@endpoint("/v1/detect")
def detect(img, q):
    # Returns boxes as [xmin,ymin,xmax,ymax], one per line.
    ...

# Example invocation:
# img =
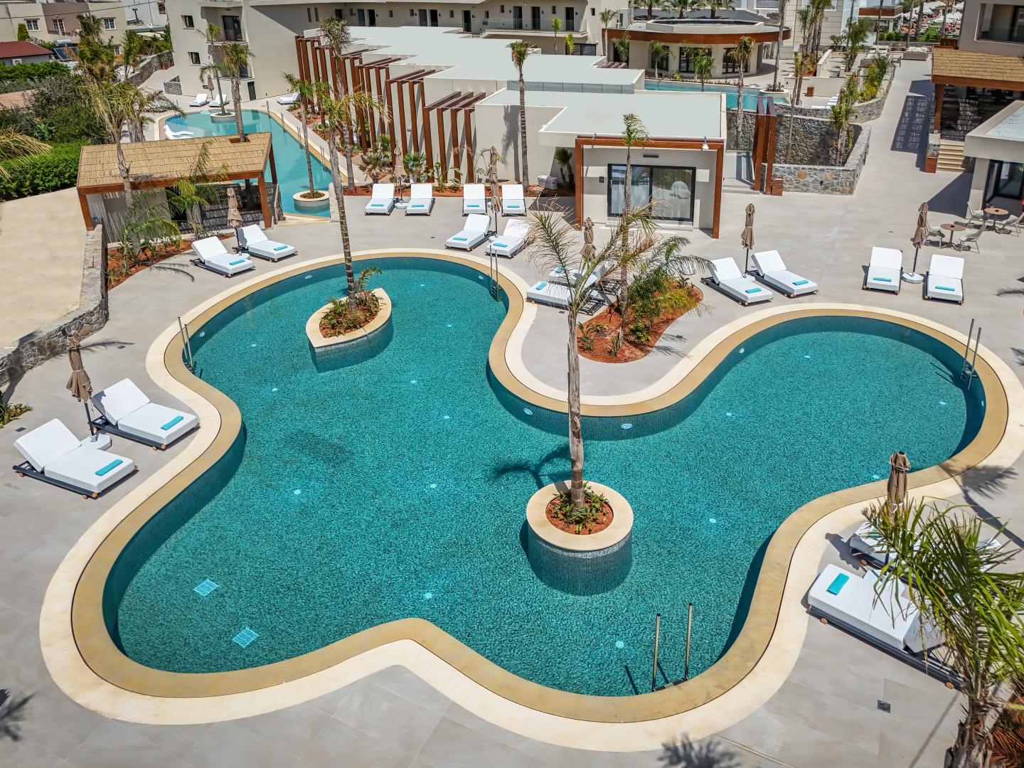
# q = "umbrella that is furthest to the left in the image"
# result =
[52,339,110,445]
